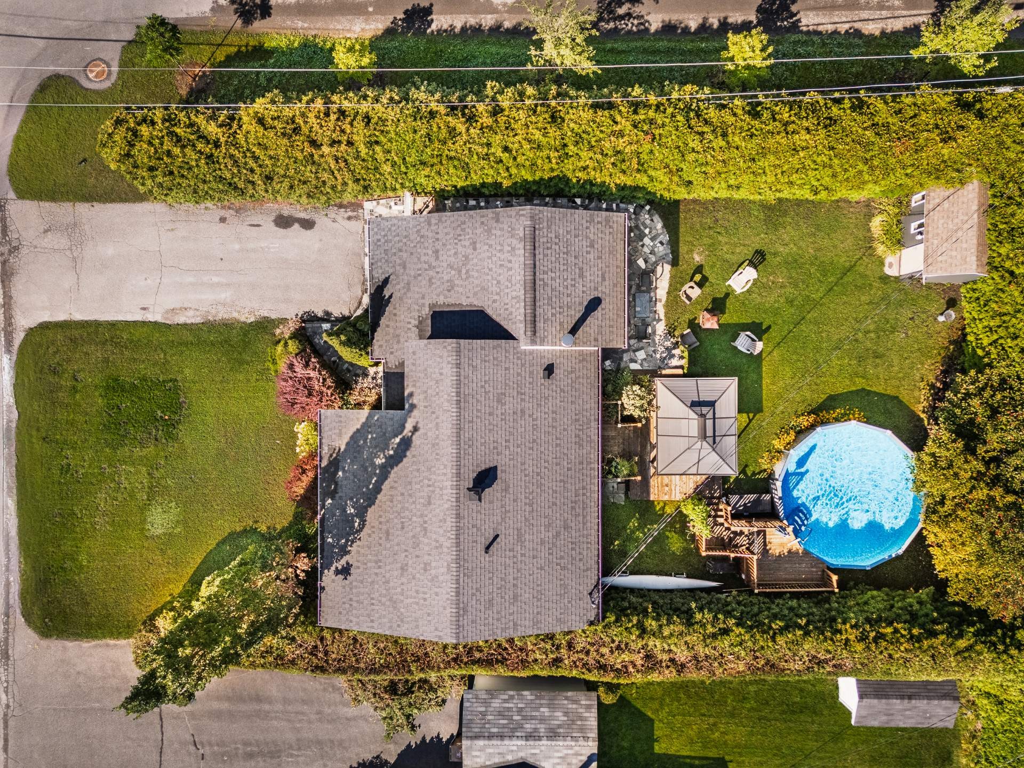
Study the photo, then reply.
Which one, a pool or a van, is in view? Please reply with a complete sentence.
Of the two, only a pool appears.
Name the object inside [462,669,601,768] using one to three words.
house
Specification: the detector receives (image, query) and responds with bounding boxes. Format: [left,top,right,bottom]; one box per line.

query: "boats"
[605,573,723,590]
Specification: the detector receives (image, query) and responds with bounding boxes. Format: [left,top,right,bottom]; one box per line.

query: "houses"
[314,206,631,644]
[462,669,601,768]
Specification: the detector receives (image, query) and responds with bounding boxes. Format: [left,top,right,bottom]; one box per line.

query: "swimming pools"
[766,420,925,568]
